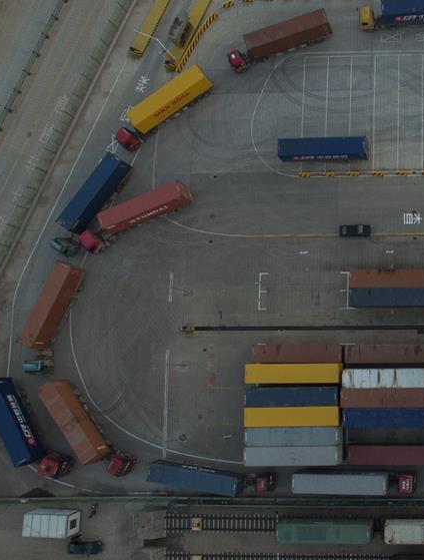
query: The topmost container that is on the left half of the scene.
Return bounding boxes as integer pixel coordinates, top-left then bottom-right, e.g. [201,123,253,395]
[126,63,211,134]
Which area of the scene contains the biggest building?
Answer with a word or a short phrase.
bottom left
